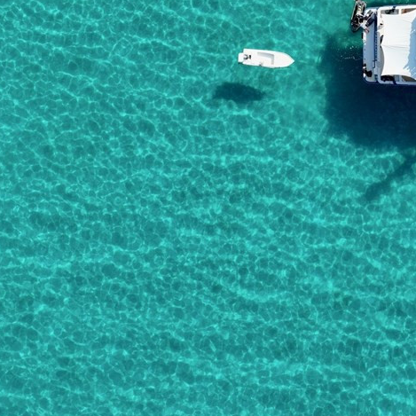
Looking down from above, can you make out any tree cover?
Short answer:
No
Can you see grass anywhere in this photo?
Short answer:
No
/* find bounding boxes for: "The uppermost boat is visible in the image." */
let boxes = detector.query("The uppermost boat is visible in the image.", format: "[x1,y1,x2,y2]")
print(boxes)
[348,0,365,32]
